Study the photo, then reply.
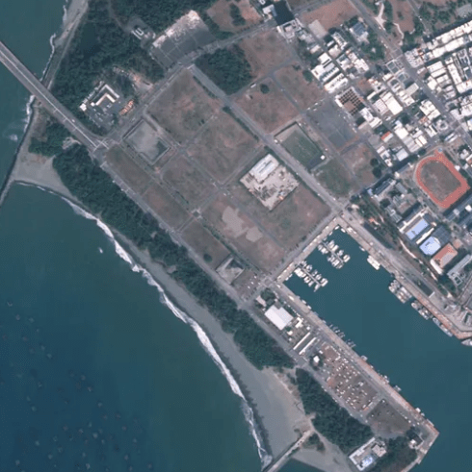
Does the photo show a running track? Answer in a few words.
Yes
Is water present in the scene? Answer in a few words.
Yes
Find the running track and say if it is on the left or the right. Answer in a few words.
right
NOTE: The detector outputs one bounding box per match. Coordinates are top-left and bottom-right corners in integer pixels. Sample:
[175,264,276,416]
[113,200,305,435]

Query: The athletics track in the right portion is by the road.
[416,157,469,209]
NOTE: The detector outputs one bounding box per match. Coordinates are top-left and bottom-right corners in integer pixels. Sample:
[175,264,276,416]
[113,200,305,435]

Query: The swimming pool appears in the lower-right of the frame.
[357,454,372,470]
